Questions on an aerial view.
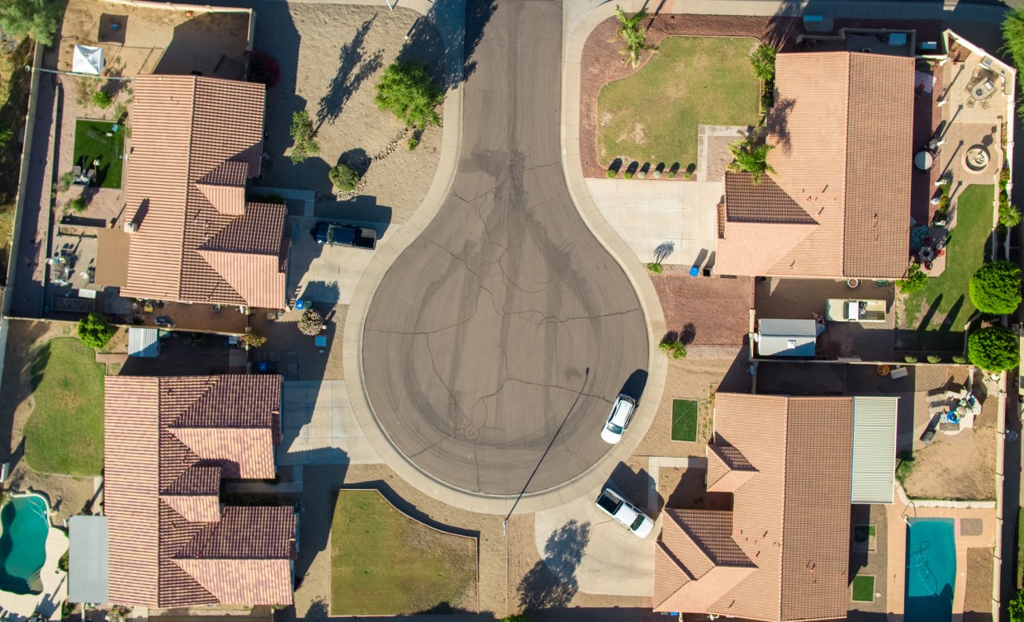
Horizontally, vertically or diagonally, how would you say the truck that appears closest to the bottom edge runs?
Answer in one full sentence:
In this picture, the truck that appears closest to the bottom edge lies diagonally.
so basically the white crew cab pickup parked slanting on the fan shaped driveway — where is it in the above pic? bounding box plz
[596,488,655,539]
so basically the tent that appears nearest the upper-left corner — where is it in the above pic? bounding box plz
[58,39,97,75]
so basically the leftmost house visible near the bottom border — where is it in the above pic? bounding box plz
[103,381,302,617]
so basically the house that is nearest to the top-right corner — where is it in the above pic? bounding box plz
[715,50,914,281]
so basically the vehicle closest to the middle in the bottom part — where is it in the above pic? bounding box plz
[603,394,637,444]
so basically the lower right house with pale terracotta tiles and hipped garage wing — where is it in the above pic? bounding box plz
[653,396,904,622]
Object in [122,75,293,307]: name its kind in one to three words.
house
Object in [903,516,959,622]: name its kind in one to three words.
swimming pool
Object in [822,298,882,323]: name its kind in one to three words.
truck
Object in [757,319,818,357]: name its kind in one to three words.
shed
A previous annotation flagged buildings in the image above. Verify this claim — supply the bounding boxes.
[0,464,9,486]
[757,319,818,357]
[122,75,293,307]
[715,50,914,281]
[121,327,159,356]
[653,396,904,622]
[103,381,302,617]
